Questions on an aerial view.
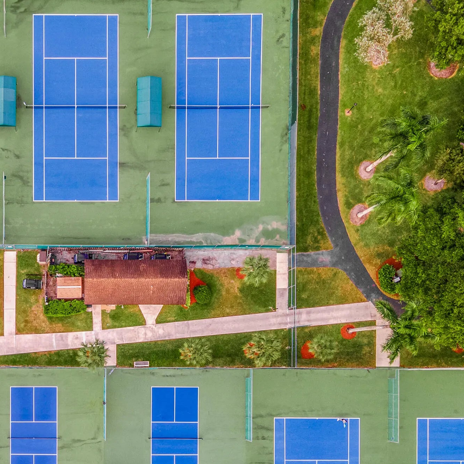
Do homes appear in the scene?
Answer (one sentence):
Yes, you can see a home in this photo.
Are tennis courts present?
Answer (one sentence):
Yes, the photo shows a tennis court.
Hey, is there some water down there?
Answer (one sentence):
No, water can't be seen anywhere here.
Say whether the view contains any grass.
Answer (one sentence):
Yes, there's grass in this view.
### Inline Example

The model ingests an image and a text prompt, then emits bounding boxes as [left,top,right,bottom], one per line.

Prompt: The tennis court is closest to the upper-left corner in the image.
[33,14,119,202]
